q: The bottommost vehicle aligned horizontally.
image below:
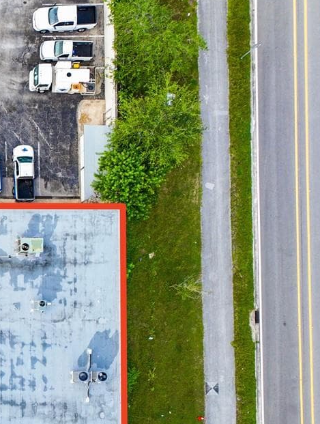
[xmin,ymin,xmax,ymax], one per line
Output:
[28,62,95,92]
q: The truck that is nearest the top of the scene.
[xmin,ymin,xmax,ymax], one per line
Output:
[32,3,98,33]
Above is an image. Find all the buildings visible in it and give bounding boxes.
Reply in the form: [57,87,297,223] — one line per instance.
[79,125,115,205]
[0,206,124,424]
